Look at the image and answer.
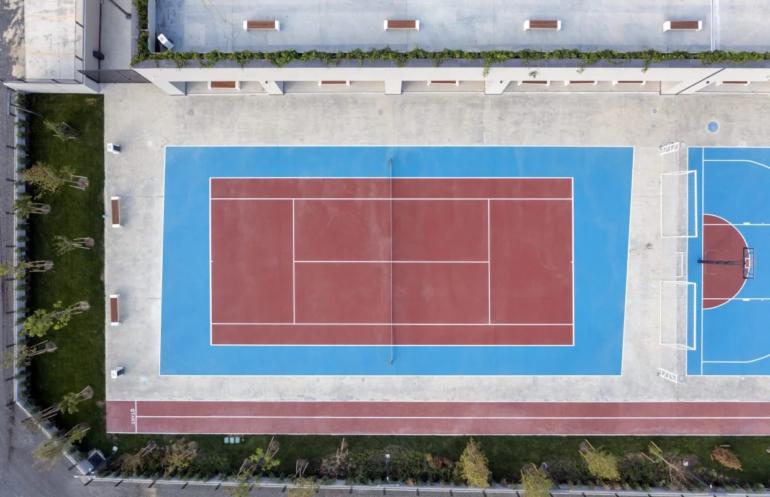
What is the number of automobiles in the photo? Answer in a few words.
zero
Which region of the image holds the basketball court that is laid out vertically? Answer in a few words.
right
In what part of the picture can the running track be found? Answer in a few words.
bottom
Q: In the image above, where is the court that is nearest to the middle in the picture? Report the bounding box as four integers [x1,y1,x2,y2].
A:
[159,146,634,376]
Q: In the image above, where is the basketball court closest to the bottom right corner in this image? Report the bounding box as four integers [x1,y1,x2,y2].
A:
[676,147,770,377]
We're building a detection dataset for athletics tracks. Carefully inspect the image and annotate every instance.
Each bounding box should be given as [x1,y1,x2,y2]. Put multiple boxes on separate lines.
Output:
[107,401,770,436]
